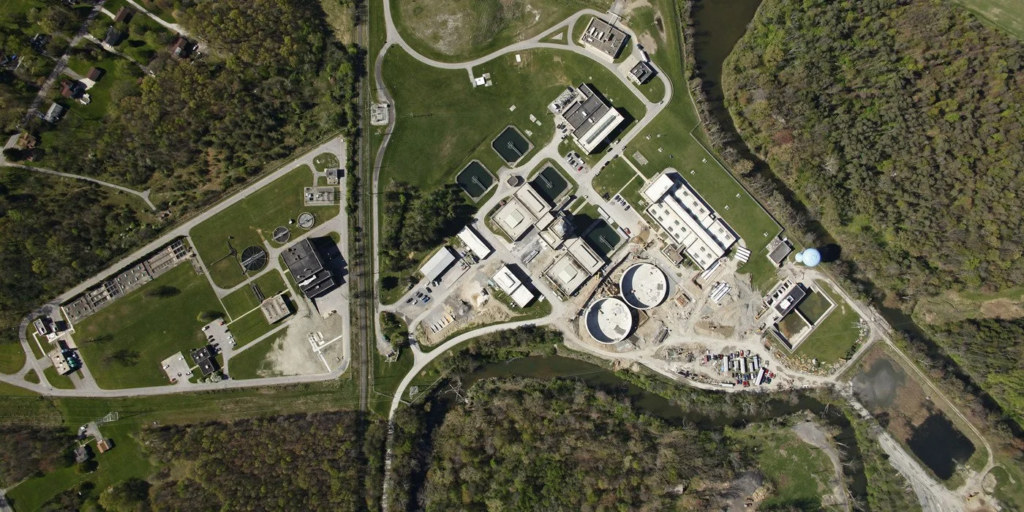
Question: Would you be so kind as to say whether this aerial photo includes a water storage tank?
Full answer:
Yes, the image includes a water storage tank.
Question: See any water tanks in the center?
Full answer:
Yes, a water tank is visible in the center.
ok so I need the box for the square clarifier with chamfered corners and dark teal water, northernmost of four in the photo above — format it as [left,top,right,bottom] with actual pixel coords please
[491,125,534,167]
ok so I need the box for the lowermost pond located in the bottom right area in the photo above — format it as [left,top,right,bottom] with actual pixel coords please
[909,413,972,478]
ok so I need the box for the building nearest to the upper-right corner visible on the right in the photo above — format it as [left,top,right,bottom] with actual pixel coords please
[766,238,791,268]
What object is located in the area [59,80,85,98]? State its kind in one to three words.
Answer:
house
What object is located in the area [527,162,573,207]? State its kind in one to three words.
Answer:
water tank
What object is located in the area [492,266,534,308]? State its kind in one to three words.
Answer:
building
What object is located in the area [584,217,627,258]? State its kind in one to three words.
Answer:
water tank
